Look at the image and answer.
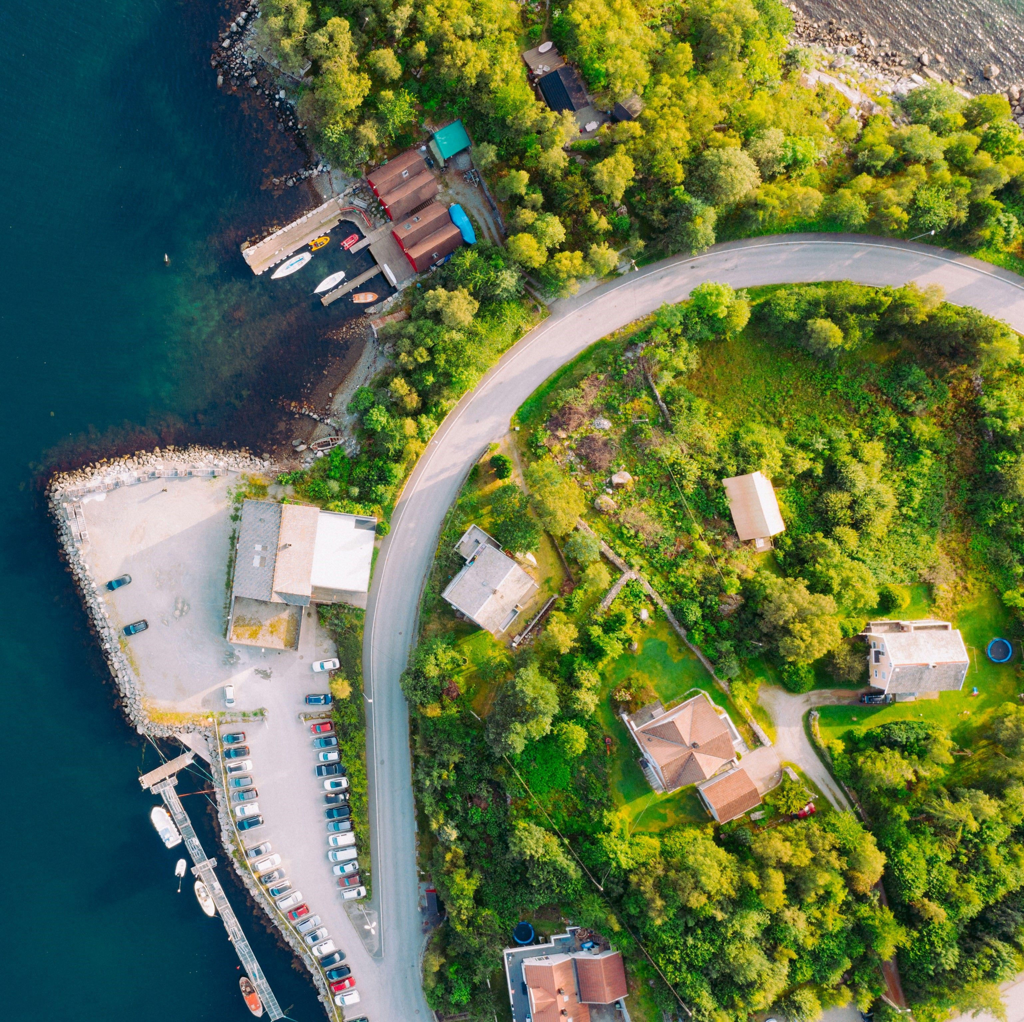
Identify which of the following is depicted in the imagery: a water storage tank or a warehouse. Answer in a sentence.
It is a warehouse that can be seen here.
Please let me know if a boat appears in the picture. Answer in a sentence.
Yes, the frame does contain a boat.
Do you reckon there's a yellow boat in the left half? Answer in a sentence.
Yes, a yellow boat shows up in the left half.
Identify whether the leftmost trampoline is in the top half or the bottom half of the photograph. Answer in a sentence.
The leftmost trampoline is in the bottom half of the image.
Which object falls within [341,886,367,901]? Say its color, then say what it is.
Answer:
white car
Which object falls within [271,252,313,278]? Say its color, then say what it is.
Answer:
white boat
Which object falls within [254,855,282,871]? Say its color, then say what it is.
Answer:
white car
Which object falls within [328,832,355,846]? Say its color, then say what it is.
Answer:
white vehicle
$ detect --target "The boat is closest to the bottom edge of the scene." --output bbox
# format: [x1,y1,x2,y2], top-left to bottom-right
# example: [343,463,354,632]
[243,977,261,1017]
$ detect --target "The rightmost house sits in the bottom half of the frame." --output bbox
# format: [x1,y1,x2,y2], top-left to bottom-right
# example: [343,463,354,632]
[868,620,970,702]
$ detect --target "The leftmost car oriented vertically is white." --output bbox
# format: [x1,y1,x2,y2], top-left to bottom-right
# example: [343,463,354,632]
[224,683,236,708]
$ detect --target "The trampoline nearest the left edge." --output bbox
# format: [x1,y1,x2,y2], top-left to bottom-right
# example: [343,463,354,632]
[512,922,535,944]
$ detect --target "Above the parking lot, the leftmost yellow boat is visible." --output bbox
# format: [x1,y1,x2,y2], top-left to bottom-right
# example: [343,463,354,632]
[307,236,331,253]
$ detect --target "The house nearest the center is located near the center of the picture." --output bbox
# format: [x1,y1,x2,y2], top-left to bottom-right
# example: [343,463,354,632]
[441,524,553,634]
